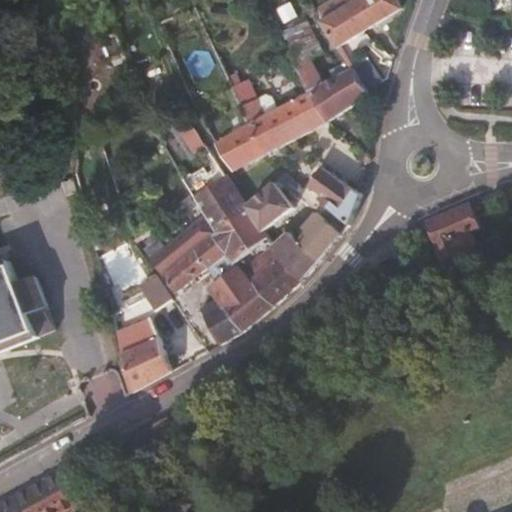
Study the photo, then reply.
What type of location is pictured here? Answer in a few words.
residential area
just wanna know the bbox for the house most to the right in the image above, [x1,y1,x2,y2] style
[424,201,485,252]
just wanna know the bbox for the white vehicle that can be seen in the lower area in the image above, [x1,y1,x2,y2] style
[52,434,72,449]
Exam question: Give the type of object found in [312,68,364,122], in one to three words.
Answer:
house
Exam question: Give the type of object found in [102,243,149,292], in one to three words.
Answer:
building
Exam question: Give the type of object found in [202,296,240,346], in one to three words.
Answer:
house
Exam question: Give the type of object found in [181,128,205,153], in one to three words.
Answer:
shed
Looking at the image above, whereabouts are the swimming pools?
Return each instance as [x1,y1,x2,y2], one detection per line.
[186,50,215,78]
